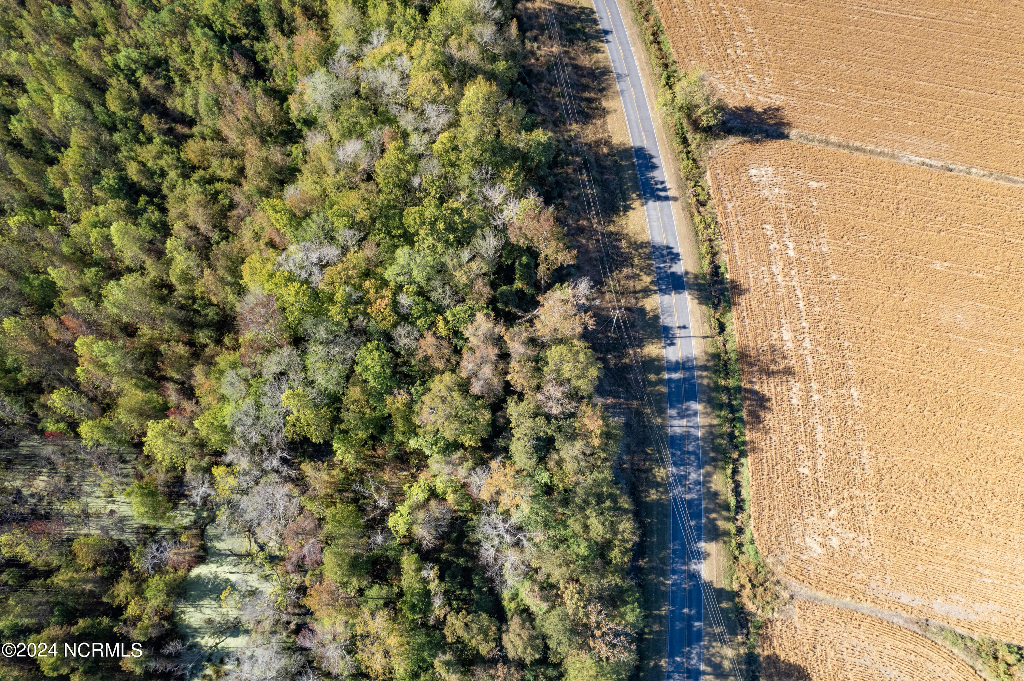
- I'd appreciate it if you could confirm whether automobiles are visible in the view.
No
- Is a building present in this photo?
No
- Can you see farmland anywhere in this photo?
Yes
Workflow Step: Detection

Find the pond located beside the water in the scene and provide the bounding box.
[0,435,293,681]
